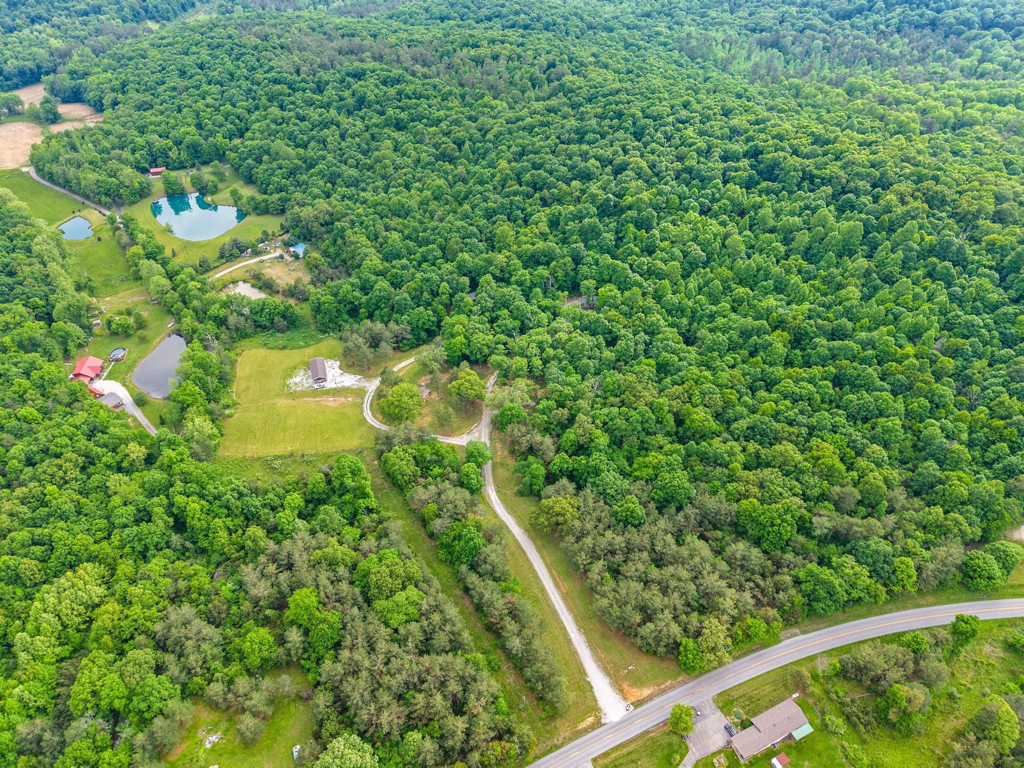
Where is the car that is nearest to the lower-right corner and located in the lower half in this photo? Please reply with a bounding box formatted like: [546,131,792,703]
[722,718,738,736]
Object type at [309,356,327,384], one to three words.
barn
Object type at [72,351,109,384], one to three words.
house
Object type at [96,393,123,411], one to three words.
building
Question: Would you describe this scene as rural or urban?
rural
